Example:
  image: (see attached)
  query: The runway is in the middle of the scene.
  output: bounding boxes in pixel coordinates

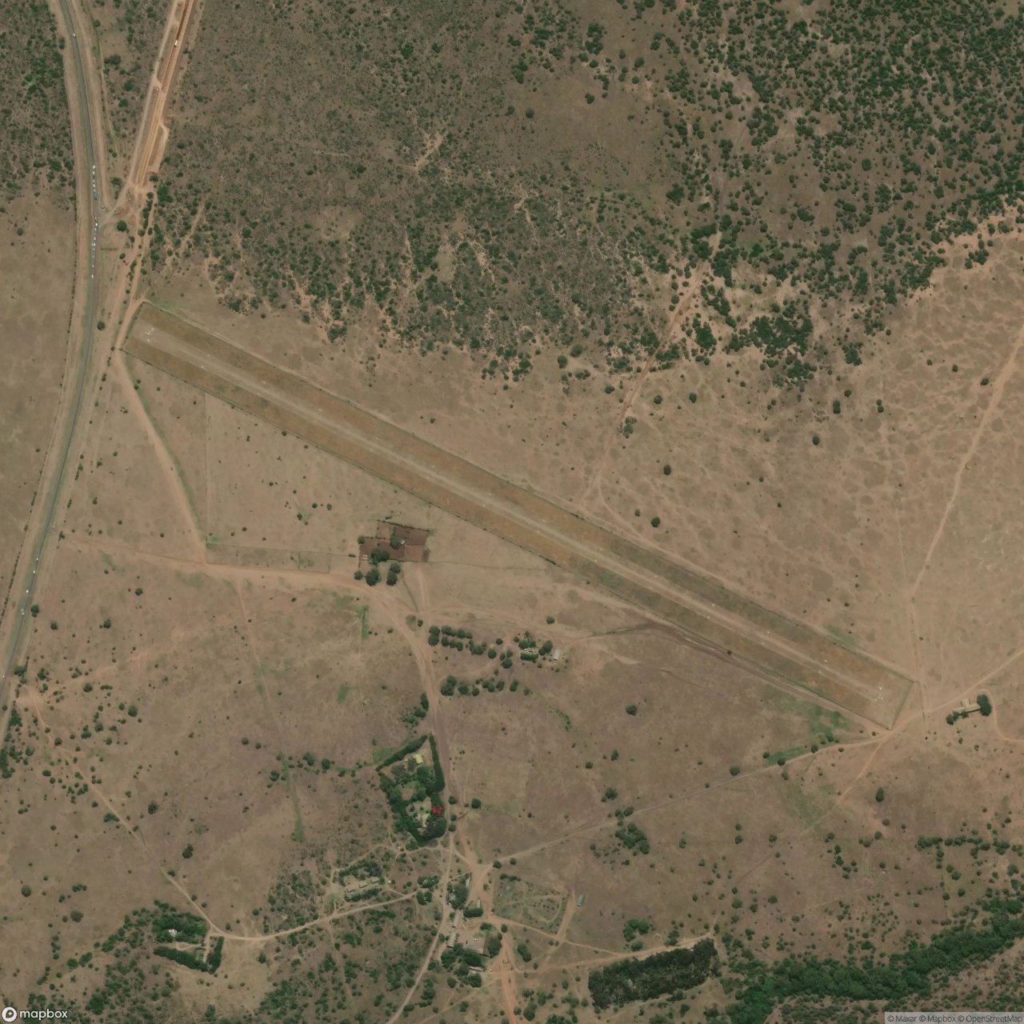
[121,302,913,730]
